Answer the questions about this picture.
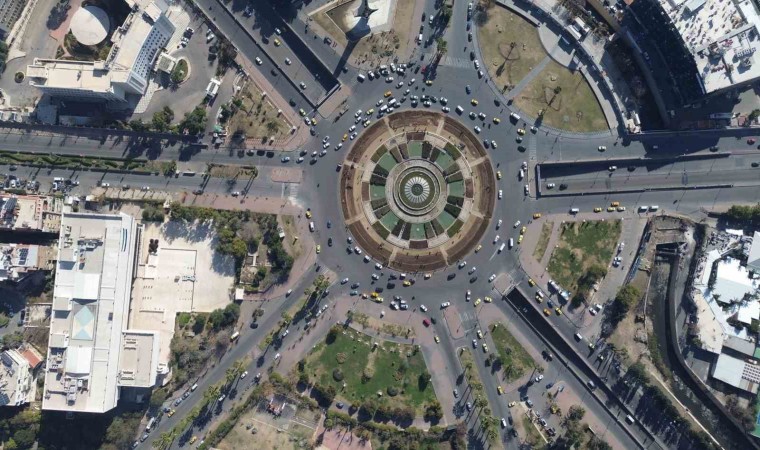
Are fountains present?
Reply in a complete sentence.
Yes, I can see a fountain in this picture.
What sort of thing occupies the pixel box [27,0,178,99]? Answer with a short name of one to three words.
building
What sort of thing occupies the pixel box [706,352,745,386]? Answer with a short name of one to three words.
building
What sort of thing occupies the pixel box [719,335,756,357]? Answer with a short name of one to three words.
house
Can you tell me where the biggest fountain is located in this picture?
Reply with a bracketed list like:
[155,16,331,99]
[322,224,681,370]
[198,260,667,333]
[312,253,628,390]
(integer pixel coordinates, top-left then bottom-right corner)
[395,167,442,214]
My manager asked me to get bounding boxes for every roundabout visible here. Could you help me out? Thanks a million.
[338,111,497,270]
